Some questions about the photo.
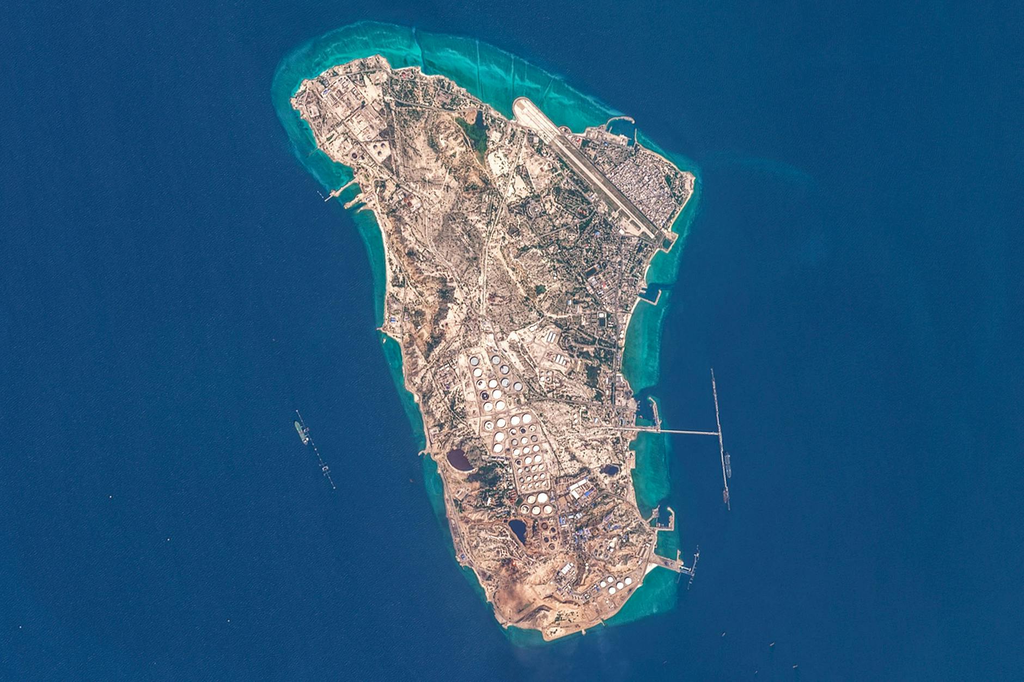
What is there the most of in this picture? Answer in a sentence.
What you mostly see from above here is water.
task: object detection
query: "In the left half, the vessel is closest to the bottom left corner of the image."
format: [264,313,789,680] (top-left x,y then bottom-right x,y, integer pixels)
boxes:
[295,422,307,445]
